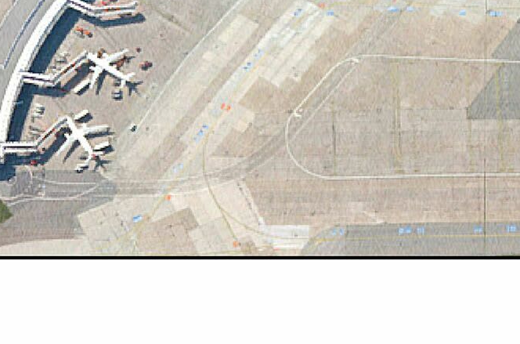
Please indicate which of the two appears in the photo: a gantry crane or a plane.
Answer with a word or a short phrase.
plane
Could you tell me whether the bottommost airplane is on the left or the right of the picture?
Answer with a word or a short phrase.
left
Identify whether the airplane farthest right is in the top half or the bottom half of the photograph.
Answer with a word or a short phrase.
top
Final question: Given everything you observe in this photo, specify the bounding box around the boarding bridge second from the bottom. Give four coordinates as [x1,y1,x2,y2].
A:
[24,52,91,89]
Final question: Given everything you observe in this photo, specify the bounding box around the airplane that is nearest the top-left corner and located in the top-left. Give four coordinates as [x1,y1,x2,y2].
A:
[89,53,135,91]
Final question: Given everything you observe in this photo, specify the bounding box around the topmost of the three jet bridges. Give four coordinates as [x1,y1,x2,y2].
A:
[68,0,139,21]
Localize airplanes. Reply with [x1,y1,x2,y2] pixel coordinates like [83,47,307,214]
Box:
[89,53,135,91]
[58,117,111,160]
